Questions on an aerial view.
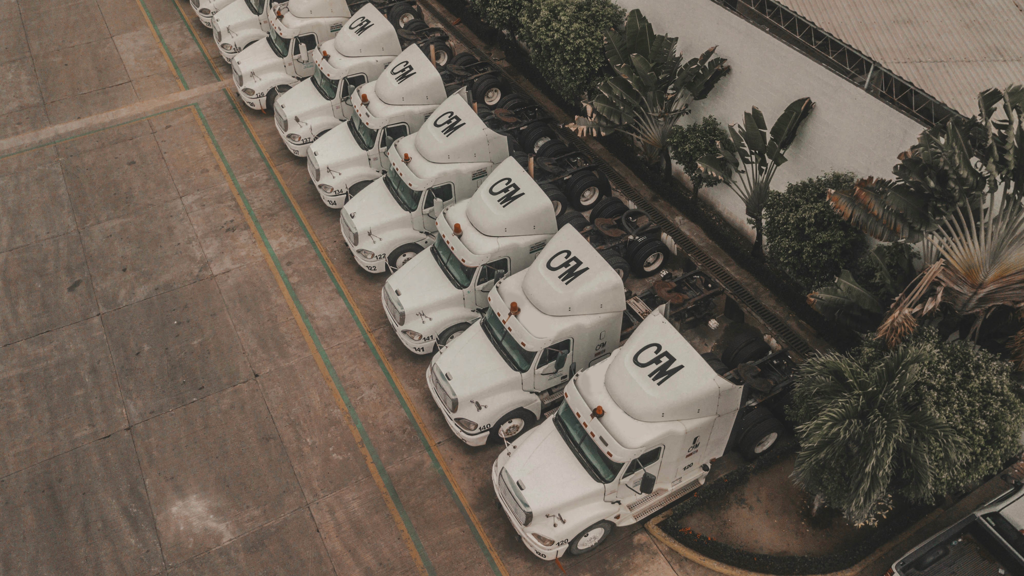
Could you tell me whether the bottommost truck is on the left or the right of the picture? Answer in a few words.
right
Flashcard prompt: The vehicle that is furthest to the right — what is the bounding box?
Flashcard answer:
[885,468,1024,576]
